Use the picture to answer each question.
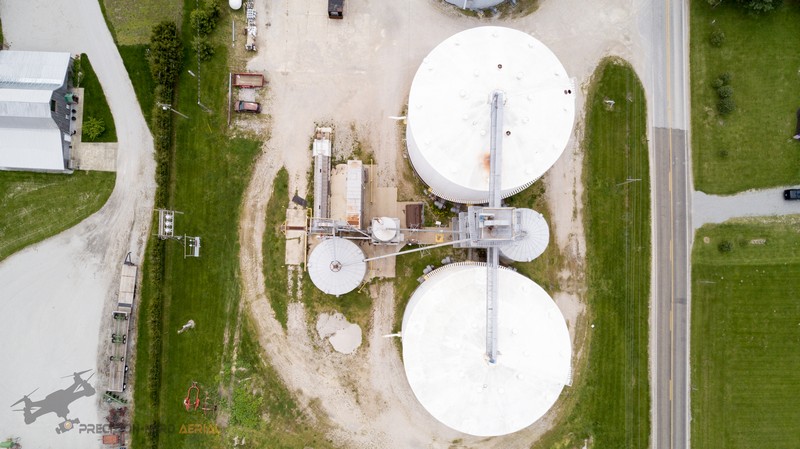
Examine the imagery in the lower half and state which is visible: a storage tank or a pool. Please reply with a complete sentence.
Visible in the lower half is a storage tank.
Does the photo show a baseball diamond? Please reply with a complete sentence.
No, no baseball diamond is visible in the scene.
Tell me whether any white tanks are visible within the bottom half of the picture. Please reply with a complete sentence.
Yes, you'll find a white tank within the bottom half of the picture.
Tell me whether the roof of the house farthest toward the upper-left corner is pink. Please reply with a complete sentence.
No, the color of the roof of the house farthest toward the upper-left corner is white.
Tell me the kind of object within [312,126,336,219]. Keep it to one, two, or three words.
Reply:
shed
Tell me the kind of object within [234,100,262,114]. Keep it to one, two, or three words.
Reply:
car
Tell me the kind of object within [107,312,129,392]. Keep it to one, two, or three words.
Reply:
trailer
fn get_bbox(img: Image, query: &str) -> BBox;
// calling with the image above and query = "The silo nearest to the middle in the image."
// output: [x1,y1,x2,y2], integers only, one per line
[371,217,405,245]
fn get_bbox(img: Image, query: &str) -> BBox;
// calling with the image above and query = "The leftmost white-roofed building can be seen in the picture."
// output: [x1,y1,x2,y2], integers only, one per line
[0,52,80,175]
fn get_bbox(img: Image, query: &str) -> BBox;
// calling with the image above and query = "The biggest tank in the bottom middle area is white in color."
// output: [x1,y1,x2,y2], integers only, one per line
[383,262,579,437]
